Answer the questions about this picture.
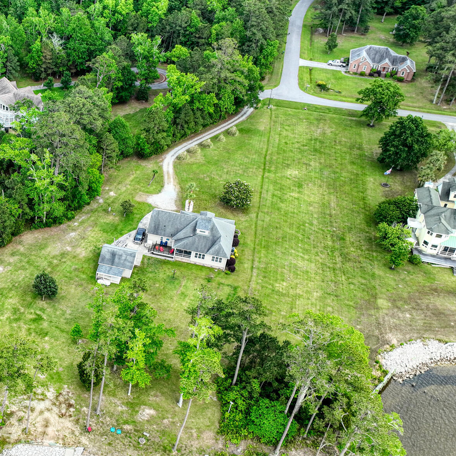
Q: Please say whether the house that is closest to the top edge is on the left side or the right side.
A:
right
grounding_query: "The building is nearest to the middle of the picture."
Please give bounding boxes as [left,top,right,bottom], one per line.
[147,207,236,271]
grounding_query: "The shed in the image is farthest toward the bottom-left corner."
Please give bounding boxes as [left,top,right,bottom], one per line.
[95,244,139,285]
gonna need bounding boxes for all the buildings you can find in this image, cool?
[349,47,416,80]
[147,207,236,271]
[0,76,51,134]
[406,177,456,276]
[95,244,139,285]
